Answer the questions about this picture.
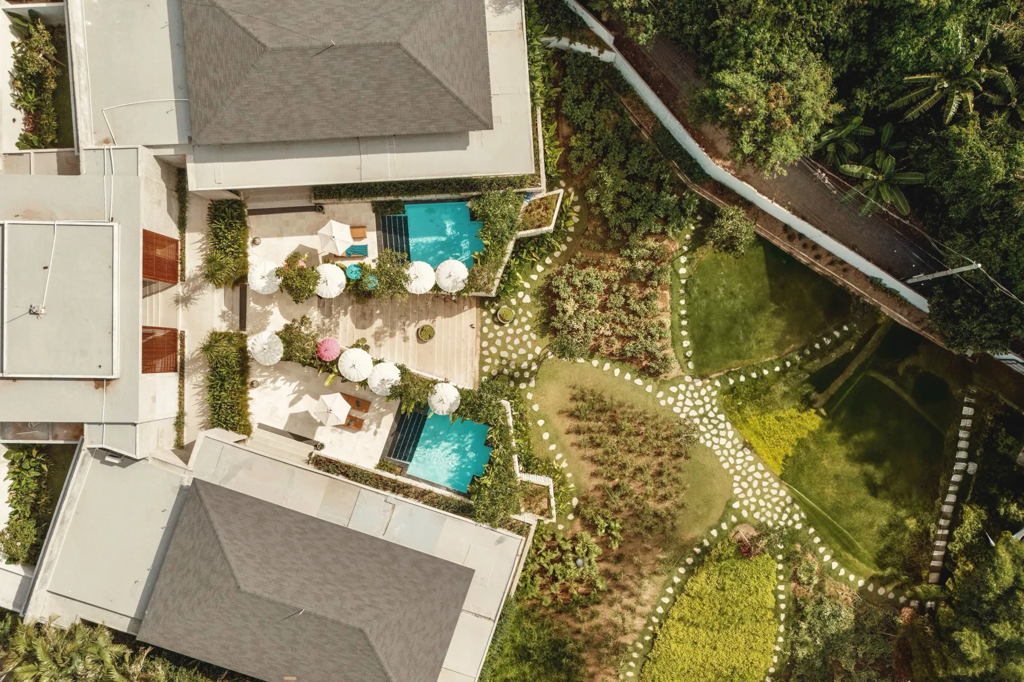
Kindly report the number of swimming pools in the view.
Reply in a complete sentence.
The count of swimming pools comes to 2.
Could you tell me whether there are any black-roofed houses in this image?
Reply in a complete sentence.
No, I can see no black-roofed house in this picture.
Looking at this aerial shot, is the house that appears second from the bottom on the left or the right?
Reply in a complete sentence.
It is on the left.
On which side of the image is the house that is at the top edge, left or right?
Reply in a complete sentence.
The house that is at the top edge sits on the left side.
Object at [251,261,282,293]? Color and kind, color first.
white umbrella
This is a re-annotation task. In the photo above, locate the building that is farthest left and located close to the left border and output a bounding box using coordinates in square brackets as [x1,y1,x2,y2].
[0,143,181,464]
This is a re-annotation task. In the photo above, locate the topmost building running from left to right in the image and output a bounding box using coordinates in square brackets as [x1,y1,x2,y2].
[68,0,534,199]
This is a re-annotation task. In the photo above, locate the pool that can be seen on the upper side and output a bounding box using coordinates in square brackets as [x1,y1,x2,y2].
[375,198,485,273]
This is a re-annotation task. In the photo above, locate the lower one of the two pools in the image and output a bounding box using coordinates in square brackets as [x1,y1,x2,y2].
[380,401,496,500]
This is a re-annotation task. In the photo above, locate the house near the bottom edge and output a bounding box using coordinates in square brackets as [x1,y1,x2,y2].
[23,430,525,682]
